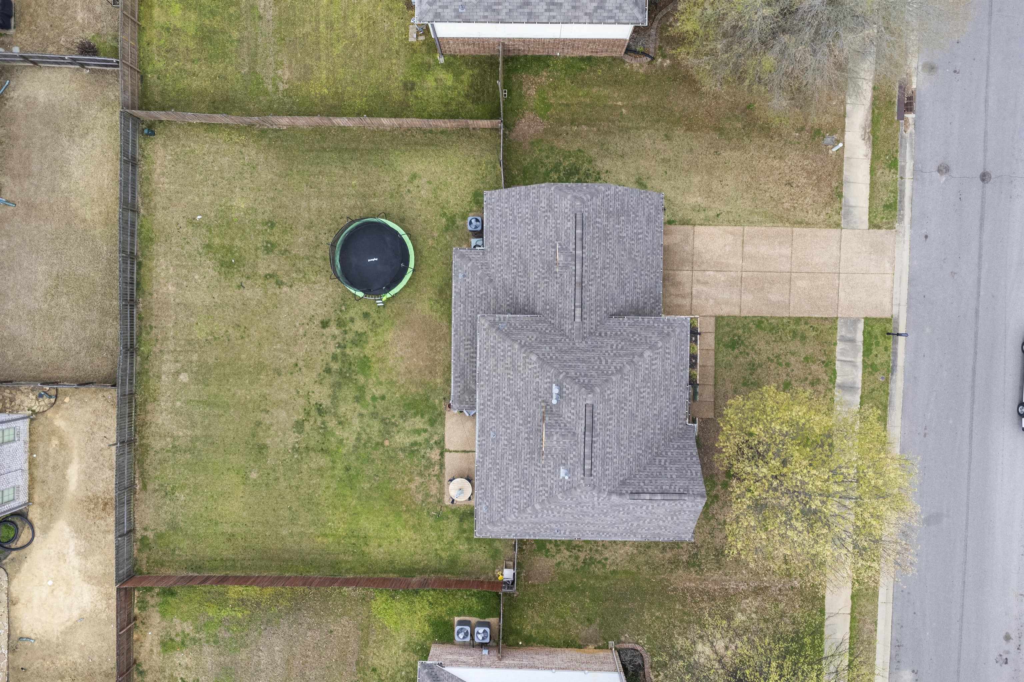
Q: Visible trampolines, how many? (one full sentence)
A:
Just 1 trampoline appears in this view.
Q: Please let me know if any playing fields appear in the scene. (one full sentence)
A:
No, I can see no playing field in this picture.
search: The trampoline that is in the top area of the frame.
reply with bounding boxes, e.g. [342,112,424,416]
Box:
[329,214,422,308]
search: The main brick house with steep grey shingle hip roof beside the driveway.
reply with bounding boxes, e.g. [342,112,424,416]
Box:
[450,180,709,543]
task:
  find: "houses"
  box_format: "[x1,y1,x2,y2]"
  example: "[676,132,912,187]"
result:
[413,0,650,60]
[450,180,709,543]
[416,640,629,682]
[0,415,33,518]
